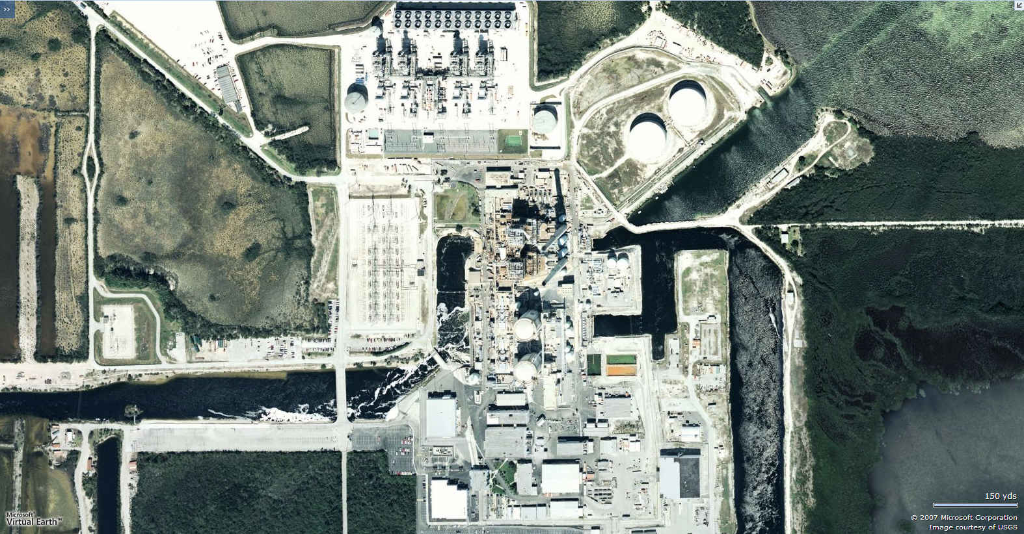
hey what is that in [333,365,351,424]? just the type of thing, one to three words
bridge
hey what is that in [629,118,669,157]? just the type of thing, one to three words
storage tank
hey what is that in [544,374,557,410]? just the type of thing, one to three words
building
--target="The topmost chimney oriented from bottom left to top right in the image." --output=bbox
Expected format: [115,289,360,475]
[542,220,572,251]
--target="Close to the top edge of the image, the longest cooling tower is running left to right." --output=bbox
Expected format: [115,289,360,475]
[393,8,521,29]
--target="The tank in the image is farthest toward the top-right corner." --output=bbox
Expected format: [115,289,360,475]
[669,85,709,125]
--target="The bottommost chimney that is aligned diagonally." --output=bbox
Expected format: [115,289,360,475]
[542,254,572,286]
